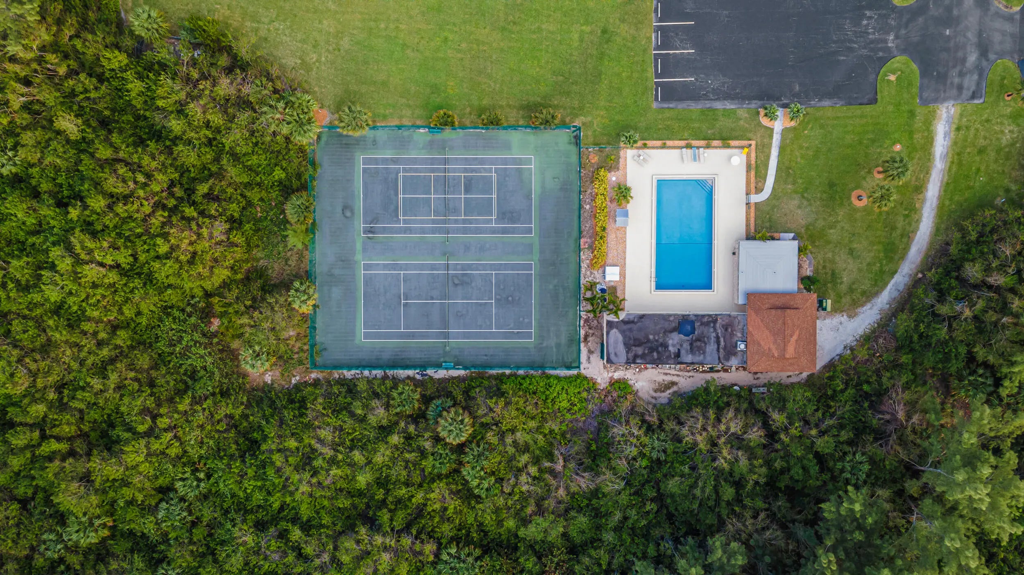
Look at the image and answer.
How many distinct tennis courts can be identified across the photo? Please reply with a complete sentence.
In total, 2 tennis courts can be seen.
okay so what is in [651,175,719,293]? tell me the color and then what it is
blue swimming pool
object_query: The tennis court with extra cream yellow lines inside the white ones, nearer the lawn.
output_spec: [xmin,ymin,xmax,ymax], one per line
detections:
[314,129,579,249]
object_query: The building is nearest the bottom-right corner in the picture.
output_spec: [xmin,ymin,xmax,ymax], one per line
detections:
[741,293,817,373]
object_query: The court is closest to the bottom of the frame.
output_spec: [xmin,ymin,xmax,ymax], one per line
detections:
[315,249,579,366]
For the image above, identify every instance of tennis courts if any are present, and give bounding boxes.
[314,129,579,249]
[315,249,579,366]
